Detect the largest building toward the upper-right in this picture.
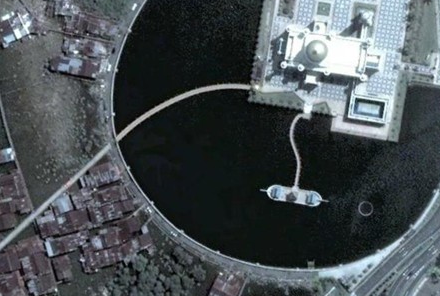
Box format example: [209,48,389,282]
[273,22,380,84]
